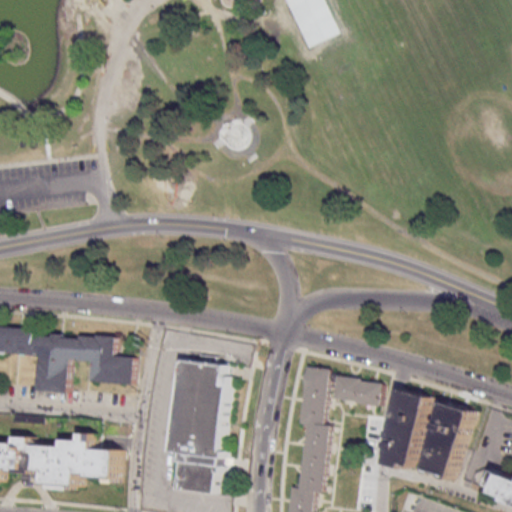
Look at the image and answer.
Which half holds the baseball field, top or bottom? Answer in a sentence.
You can find the baseball field in the top half.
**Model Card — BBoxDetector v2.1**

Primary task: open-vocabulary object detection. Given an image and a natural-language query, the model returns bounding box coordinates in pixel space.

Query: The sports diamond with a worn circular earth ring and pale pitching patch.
[446,95,512,196]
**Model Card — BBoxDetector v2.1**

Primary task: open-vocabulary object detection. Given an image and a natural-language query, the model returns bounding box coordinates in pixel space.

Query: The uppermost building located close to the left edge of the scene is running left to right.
[0,327,142,394]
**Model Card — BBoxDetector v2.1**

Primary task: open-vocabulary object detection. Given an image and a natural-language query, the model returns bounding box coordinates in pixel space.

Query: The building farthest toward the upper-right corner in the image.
[286,0,344,49]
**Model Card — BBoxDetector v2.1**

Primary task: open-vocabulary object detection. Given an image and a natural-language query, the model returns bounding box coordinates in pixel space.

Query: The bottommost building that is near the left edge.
[0,433,126,492]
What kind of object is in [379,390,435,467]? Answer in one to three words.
building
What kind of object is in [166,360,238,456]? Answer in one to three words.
building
